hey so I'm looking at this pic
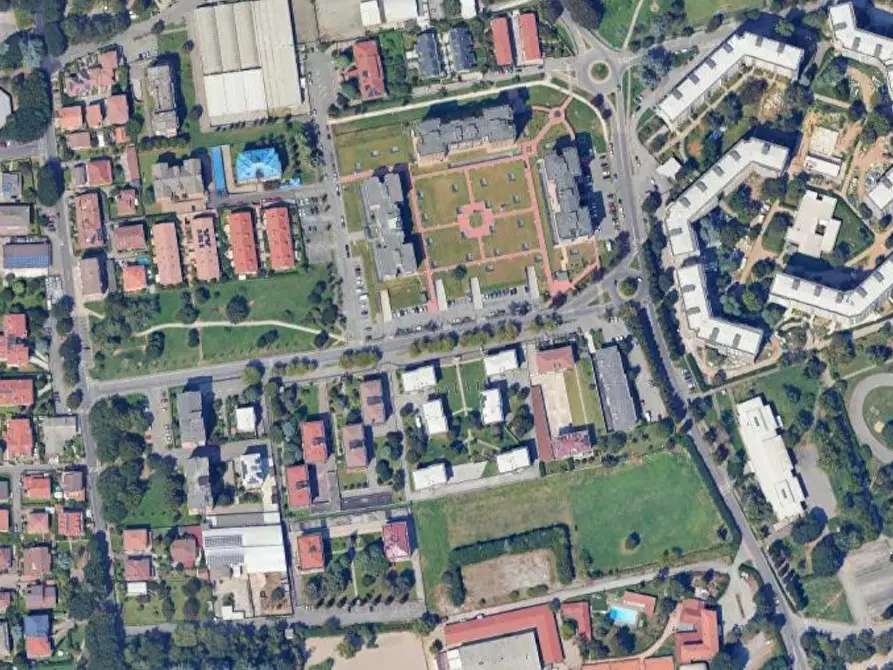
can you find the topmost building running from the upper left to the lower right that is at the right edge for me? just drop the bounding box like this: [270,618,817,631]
[828,2,893,103]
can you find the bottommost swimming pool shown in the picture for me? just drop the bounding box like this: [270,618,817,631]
[606,603,639,626]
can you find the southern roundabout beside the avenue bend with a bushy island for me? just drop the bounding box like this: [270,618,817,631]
[609,266,648,305]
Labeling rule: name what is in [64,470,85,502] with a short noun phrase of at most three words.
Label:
house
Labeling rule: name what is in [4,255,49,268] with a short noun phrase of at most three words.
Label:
solar panel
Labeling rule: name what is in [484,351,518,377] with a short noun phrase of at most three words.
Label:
building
